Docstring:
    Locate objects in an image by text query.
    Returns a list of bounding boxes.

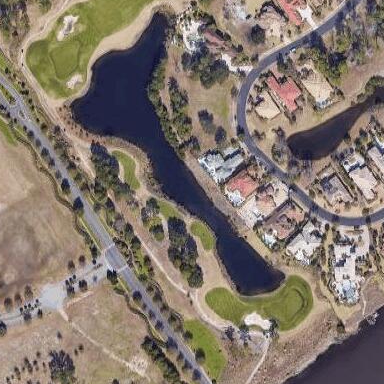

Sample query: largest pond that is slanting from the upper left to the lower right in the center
[71,13,284,295]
